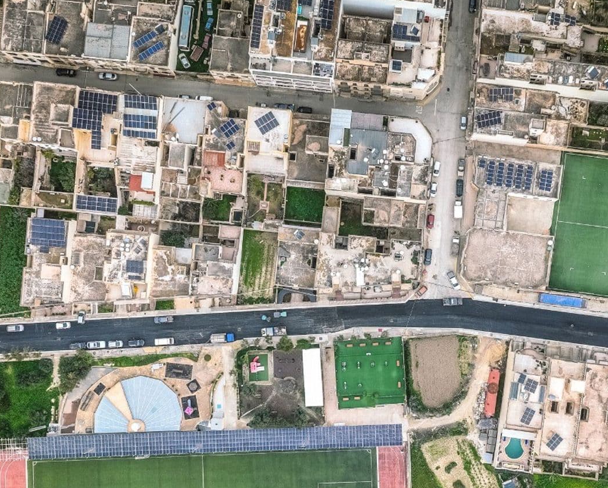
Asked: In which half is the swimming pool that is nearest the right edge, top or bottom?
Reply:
bottom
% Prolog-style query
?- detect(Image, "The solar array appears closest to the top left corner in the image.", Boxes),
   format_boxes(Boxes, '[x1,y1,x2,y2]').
[48,15,66,42]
